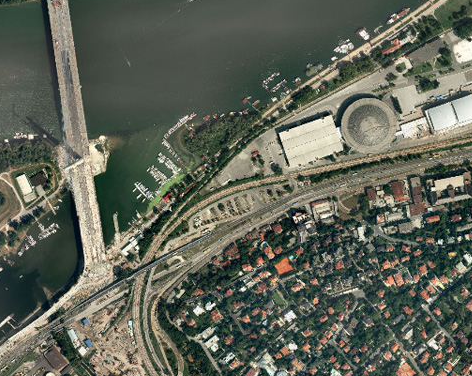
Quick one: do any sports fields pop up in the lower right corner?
No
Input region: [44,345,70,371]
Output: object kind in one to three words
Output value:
building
